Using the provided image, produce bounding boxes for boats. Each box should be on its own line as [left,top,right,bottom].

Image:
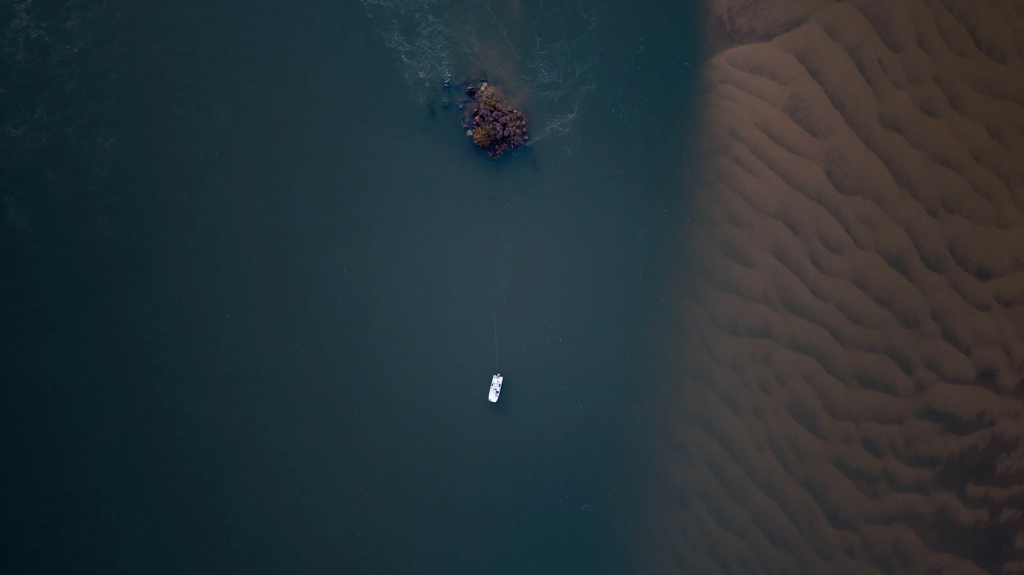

[489,374,503,403]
